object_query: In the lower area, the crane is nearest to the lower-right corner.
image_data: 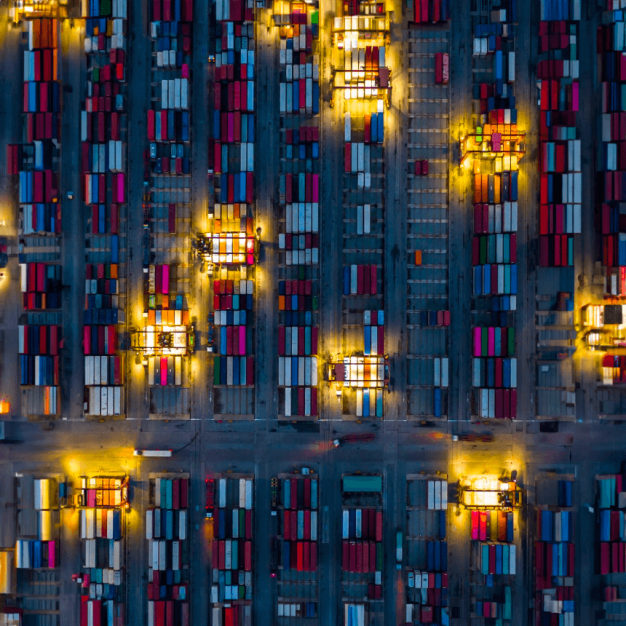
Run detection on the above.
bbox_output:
[458,474,528,509]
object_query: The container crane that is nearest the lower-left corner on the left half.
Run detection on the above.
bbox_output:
[61,473,132,509]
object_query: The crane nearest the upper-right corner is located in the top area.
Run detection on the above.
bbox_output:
[458,131,528,166]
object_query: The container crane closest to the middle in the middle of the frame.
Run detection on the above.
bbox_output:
[328,355,392,386]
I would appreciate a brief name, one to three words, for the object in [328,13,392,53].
container crane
